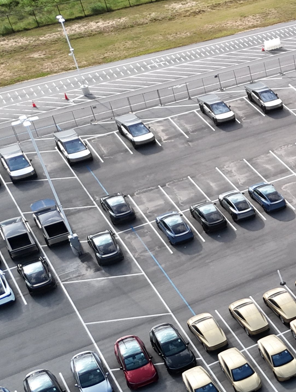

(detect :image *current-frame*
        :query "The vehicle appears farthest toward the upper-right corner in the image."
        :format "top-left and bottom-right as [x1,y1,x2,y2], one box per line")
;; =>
[243,81,283,112]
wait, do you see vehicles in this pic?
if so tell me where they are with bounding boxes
[0,143,36,180]
[110,336,158,389]
[243,81,283,112]
[188,200,226,232]
[53,126,93,163]
[113,112,153,147]
[0,216,39,259]
[255,336,296,381]
[28,195,71,242]
[261,287,296,324]
[227,298,269,337]
[194,93,234,125]
[85,229,124,265]
[0,269,15,306]
[179,367,221,392]
[99,192,136,224]
[15,256,56,295]
[148,323,194,374]
[67,351,115,392]
[247,181,286,212]
[154,211,193,244]
[215,348,263,392]
[217,189,255,220]
[23,368,66,392]
[187,312,229,352]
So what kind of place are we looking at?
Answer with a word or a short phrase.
parking lot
